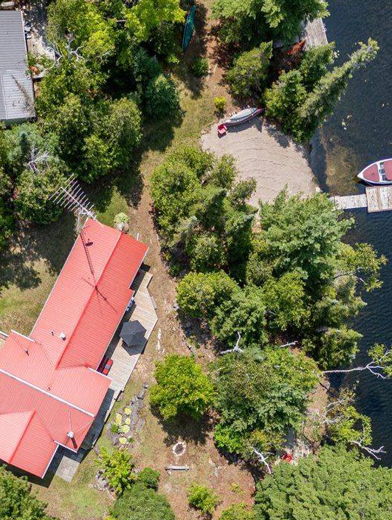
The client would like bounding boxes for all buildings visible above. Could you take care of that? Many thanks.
[0,10,36,123]
[0,218,148,478]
